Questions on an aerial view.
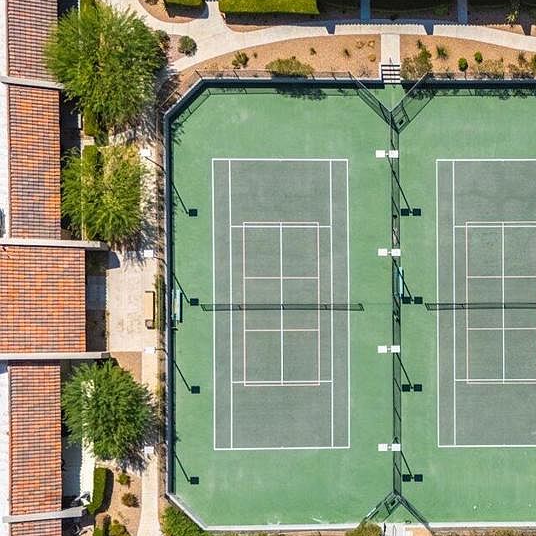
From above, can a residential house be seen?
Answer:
Yes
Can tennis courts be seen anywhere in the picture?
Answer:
Yes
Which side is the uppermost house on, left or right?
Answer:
left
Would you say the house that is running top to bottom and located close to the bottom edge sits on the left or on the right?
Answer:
left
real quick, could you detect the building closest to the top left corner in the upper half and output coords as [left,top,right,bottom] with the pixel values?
[0,0,58,82]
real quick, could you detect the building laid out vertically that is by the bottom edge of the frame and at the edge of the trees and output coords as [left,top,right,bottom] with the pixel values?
[0,360,62,514]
